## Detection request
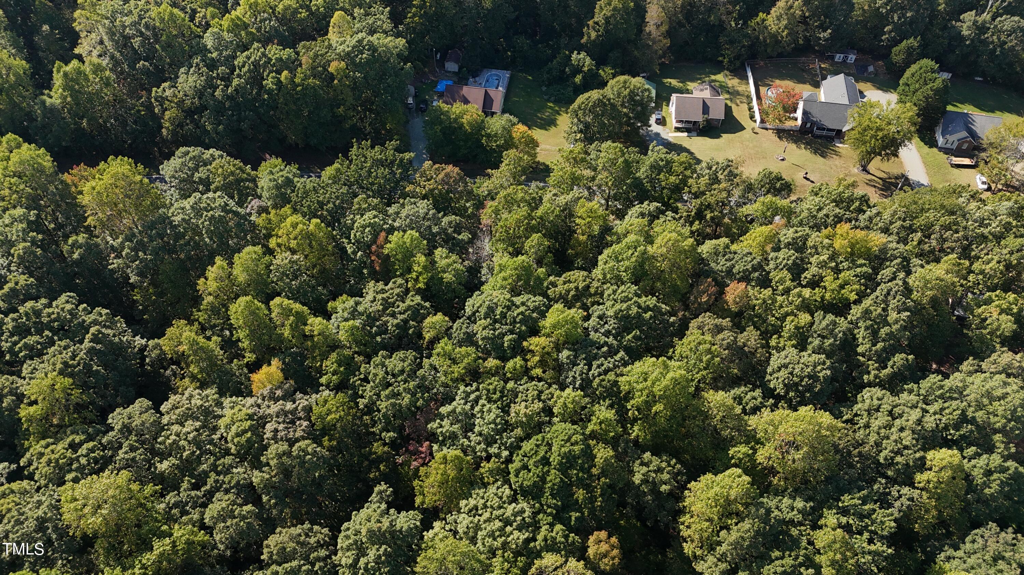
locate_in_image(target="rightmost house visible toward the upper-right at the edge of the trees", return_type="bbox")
[931,112,1004,153]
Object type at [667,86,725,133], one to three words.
house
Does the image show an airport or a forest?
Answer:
forest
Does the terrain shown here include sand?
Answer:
No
